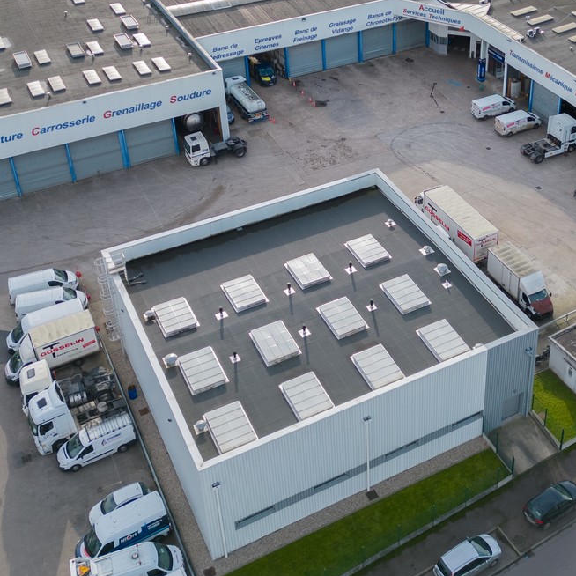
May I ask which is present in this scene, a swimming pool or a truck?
truck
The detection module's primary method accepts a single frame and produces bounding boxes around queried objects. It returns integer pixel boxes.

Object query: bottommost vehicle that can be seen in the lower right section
[431,533,502,576]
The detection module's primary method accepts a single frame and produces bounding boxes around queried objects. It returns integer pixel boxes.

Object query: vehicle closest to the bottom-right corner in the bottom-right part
[524,481,576,531]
